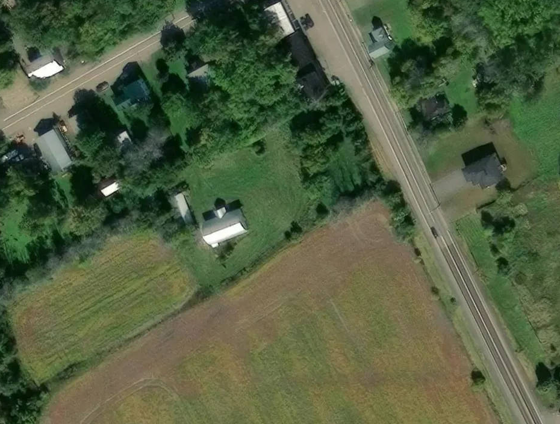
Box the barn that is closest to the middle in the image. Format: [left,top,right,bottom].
[201,203,250,248]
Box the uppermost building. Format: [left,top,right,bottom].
[268,0,298,36]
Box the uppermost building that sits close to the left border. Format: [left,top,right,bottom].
[26,50,67,81]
